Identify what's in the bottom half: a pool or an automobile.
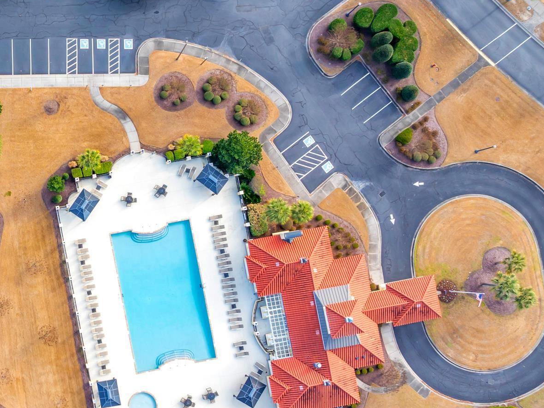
pool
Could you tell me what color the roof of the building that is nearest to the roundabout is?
red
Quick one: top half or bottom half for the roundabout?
bottom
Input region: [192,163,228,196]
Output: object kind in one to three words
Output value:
gazebo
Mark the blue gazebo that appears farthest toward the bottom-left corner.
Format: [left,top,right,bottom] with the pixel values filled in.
[95,376,121,408]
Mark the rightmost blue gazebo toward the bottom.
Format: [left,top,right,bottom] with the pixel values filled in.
[231,373,267,408]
